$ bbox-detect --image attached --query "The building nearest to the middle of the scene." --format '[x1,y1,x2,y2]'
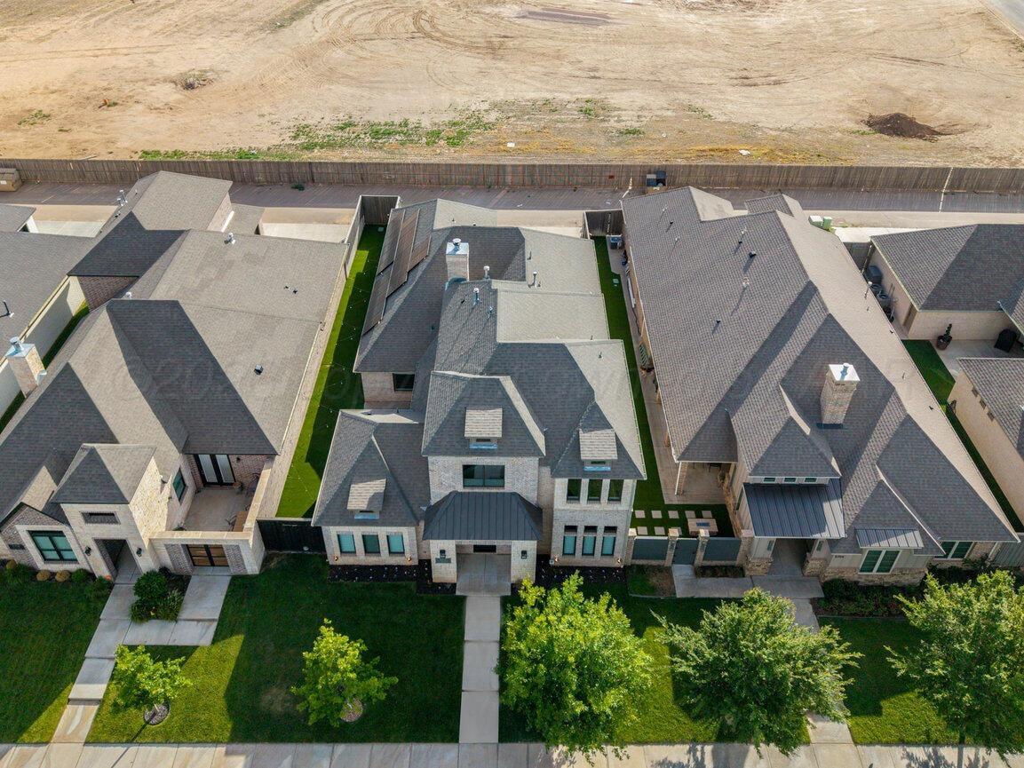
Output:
[310,198,650,582]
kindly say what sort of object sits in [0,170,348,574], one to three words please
house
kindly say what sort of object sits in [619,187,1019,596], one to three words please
house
